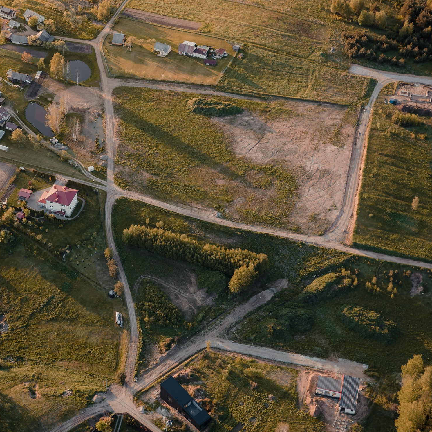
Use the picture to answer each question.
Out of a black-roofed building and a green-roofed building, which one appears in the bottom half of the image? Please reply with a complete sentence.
It is a black-roofed building that can be seen in the bottom half of the image.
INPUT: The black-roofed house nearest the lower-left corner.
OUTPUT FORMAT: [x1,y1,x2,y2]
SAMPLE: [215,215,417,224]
[160,376,211,431]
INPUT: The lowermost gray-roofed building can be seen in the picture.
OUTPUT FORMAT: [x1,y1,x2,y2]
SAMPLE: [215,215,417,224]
[318,375,361,416]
